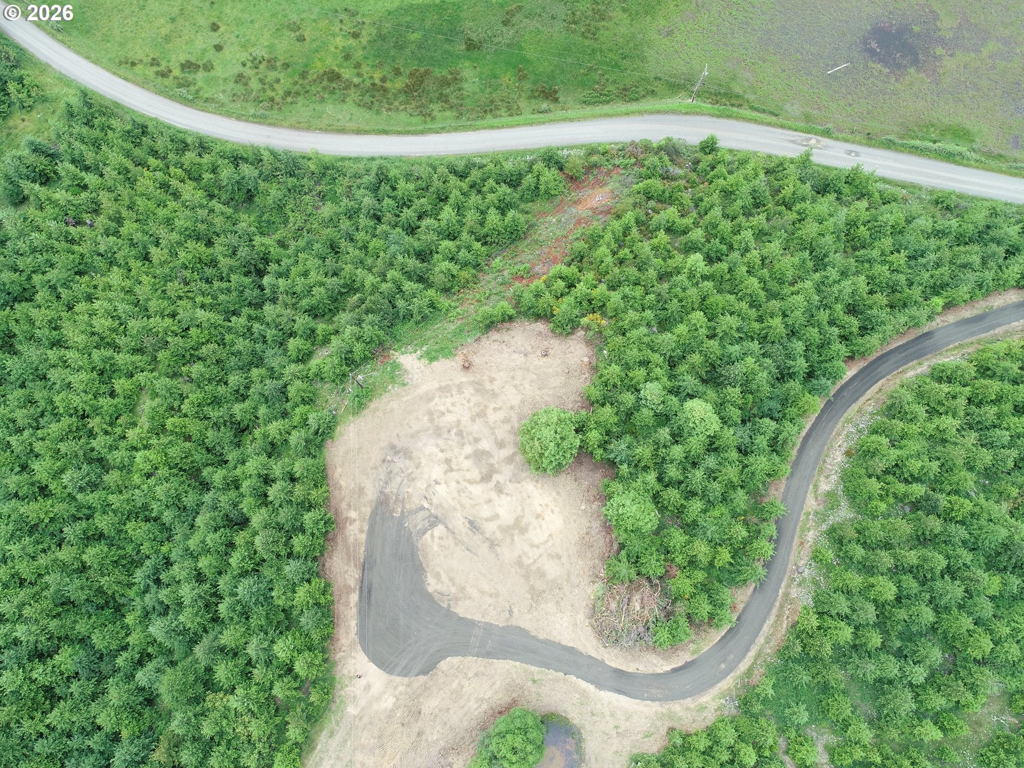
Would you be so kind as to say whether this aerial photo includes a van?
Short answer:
No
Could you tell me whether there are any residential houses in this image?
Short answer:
No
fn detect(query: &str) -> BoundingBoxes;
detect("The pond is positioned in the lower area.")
[531,713,583,768]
